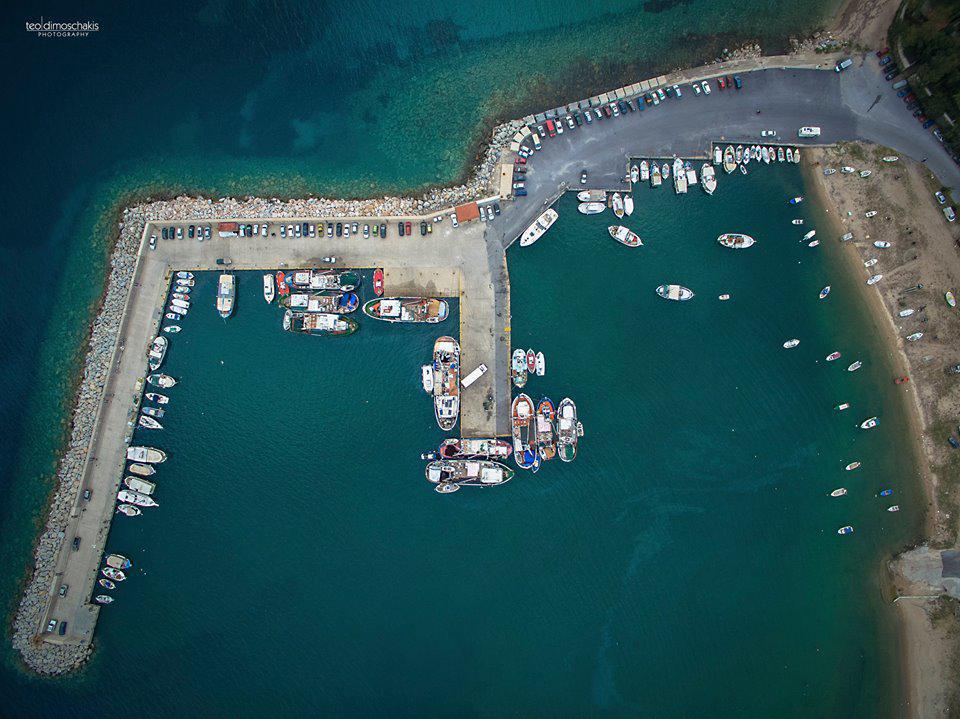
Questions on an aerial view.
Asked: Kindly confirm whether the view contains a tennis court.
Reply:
No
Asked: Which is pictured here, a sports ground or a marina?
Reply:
marina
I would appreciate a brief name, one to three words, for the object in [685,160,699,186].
boat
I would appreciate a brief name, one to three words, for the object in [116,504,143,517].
boat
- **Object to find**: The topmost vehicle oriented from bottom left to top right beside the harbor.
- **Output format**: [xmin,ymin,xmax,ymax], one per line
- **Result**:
[832,57,853,73]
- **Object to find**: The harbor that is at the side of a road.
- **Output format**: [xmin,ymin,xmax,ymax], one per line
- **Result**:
[42,67,846,642]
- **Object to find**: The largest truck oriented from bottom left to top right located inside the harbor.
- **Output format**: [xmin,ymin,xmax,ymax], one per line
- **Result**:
[461,364,488,387]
